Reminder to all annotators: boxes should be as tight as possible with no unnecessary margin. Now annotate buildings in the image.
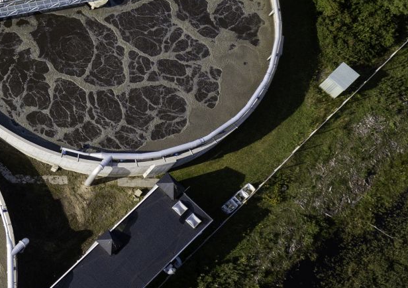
[313,60,361,104]
[38,177,208,288]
